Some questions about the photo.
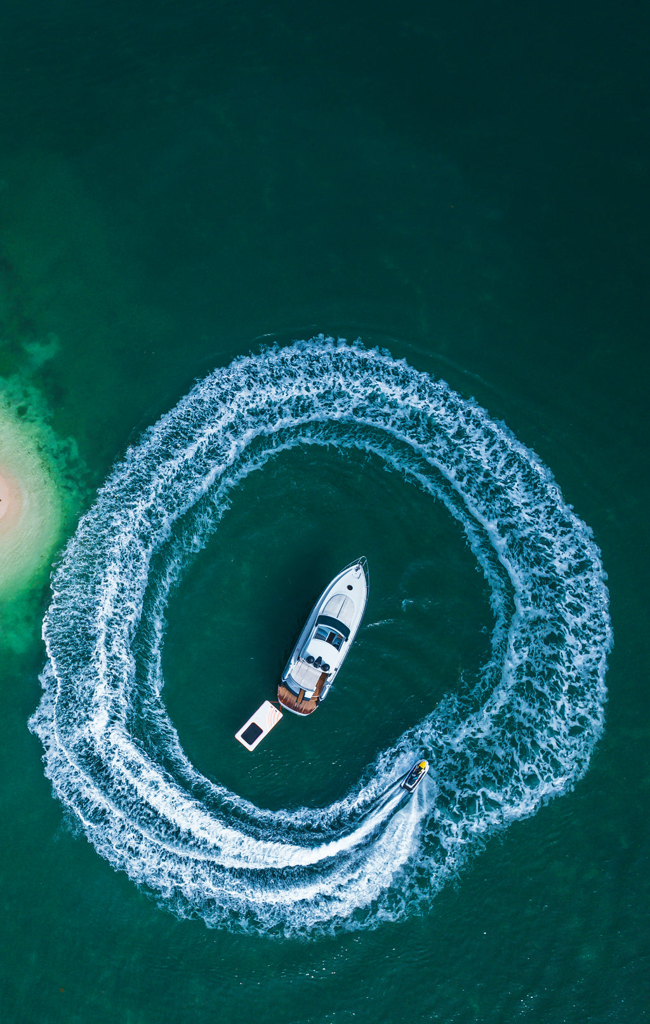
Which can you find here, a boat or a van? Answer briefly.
boat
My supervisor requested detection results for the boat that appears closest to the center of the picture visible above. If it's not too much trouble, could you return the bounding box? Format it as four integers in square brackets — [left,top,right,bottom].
[277,557,371,714]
